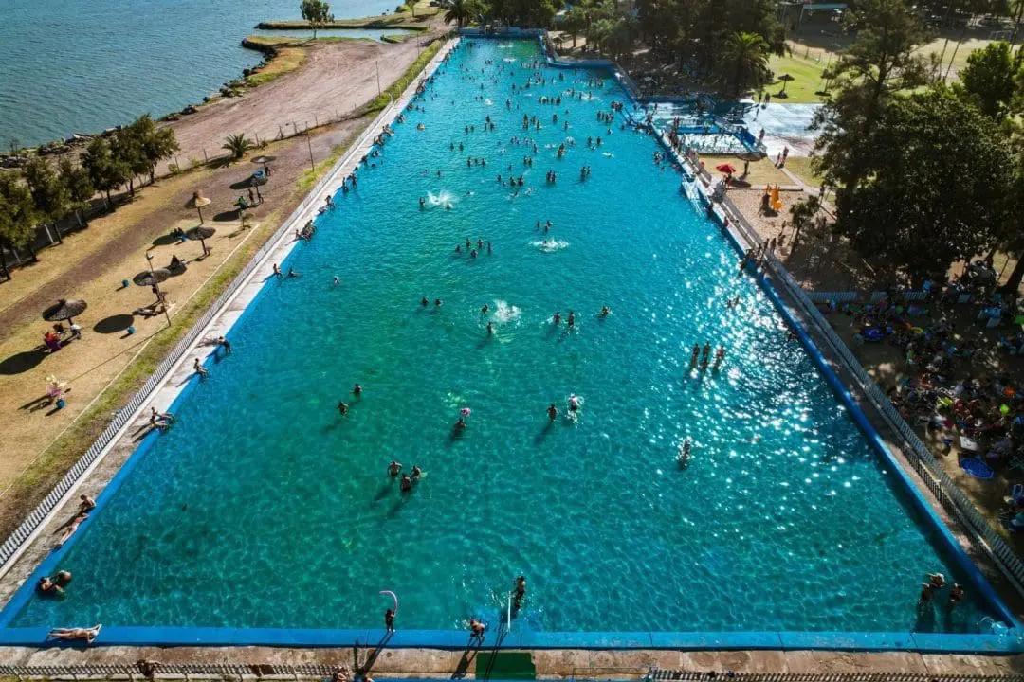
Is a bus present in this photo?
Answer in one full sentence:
No, I can see no bus in this picture.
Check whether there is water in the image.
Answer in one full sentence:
Yes, there is water in the image.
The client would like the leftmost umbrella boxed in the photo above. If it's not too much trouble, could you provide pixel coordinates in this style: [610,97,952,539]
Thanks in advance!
[28,292,92,333]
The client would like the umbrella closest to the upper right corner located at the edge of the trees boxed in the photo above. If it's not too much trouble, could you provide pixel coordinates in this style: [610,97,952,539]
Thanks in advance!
[814,67,839,90]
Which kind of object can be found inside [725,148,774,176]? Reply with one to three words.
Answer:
umbrella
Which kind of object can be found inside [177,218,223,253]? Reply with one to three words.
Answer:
umbrella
